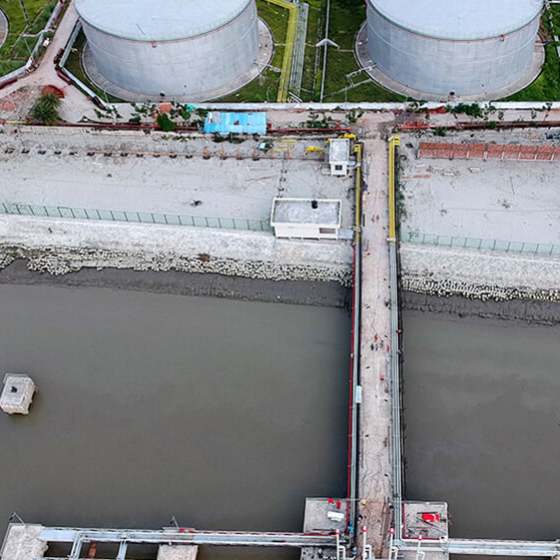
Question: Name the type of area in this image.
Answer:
industrial area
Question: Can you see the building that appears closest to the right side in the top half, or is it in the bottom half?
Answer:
top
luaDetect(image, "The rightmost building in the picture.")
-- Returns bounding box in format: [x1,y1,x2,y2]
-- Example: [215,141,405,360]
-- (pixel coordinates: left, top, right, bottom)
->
[328,137,350,175]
